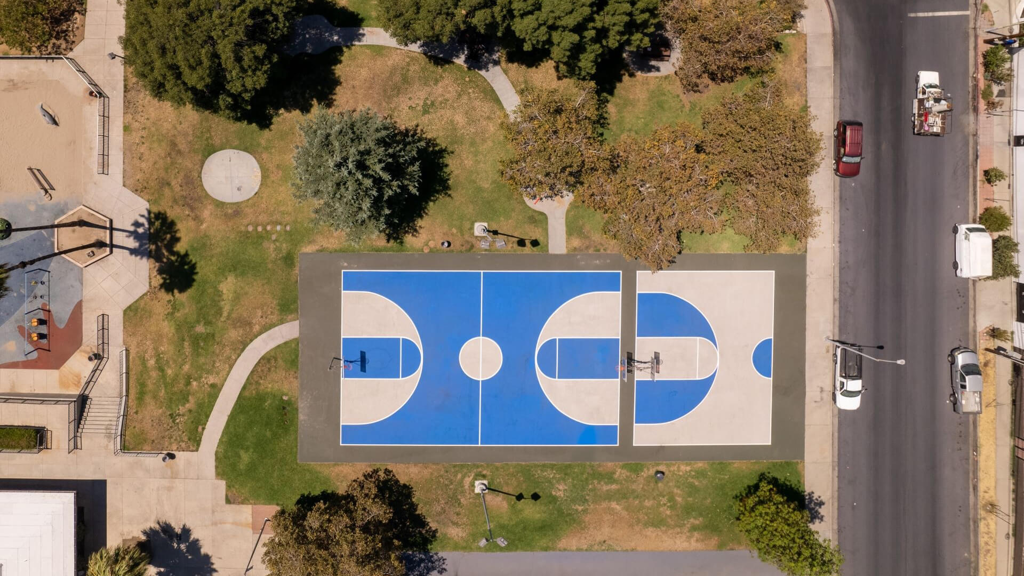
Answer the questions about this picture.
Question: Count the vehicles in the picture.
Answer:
5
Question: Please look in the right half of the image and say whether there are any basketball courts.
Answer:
Yes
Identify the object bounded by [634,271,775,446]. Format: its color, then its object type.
white basketball court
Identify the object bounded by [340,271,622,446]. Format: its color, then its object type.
blue basketball court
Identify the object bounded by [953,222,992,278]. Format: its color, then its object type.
white van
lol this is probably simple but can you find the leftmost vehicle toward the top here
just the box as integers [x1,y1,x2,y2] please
[835,121,865,177]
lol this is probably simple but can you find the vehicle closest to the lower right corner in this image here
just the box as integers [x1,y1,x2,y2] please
[950,348,987,416]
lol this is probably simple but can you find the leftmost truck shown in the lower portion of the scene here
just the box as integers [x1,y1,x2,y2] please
[834,344,866,410]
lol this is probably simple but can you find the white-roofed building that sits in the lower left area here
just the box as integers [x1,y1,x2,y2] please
[0,481,87,576]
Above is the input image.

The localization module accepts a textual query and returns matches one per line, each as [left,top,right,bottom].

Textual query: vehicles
[908,71,950,136]
[953,222,992,278]
[834,344,866,410]
[950,348,987,416]
[835,121,865,177]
